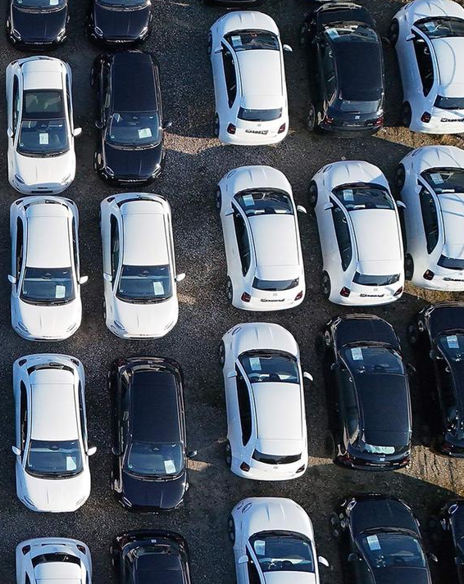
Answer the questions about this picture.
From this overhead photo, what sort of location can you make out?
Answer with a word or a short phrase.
parking lot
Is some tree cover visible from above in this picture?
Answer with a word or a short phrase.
No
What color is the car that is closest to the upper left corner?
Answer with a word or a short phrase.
black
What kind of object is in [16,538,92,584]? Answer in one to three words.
car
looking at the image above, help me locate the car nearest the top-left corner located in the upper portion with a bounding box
[6,0,71,52]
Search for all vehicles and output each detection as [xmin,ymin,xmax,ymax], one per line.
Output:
[416,303,464,457]
[4,55,83,194]
[321,315,418,469]
[302,5,389,137]
[208,13,291,145]
[101,192,186,339]
[310,163,404,305]
[219,325,311,479]
[332,493,434,584]
[391,1,464,133]
[217,168,306,310]
[8,194,90,341]
[6,0,71,52]
[226,497,323,584]
[16,538,92,584]
[11,353,97,512]
[113,530,193,584]
[112,356,200,514]
[394,149,464,290]
[94,48,173,187]
[89,0,155,49]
